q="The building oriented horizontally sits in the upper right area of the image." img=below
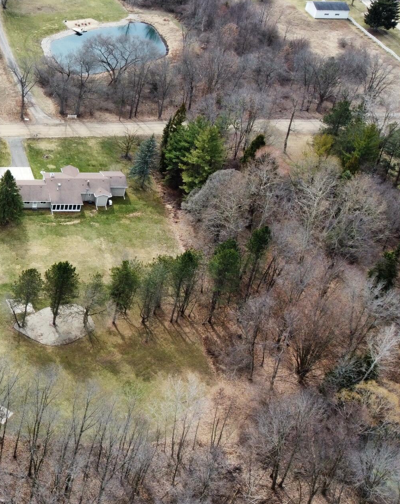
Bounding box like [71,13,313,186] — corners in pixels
[308,0,352,19]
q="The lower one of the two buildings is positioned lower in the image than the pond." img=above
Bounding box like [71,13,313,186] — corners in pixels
[2,164,128,214]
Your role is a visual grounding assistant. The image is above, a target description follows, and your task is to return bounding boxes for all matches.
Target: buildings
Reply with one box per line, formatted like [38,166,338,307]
[308,0,352,19]
[2,164,128,214]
